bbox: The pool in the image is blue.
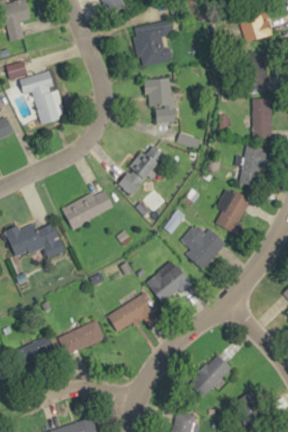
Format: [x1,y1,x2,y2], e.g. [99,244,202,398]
[15,96,31,117]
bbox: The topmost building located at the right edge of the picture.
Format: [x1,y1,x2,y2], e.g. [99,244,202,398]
[238,12,274,43]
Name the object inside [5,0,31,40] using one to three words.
house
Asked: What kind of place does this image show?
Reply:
residential area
